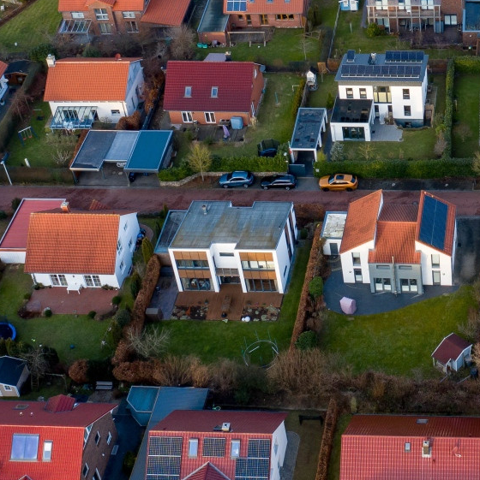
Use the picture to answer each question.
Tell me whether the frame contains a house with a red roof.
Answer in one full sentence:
Yes, the frame does contain a house with a red roof.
